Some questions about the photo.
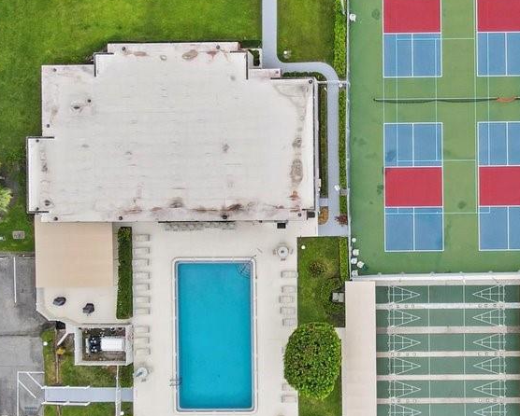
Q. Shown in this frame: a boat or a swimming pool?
swimming pool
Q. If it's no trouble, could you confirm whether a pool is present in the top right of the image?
No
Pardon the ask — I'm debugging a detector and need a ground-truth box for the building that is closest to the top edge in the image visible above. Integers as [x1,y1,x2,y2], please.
[26,42,319,223]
